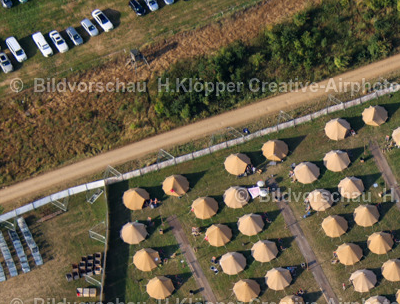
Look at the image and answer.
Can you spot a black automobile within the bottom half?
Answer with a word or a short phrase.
No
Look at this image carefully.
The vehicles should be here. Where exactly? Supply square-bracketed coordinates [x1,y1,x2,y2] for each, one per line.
[129,0,146,18]
[163,0,175,6]
[33,31,51,56]
[50,31,67,53]
[82,18,97,37]
[7,34,26,59]
[0,52,13,74]
[0,0,13,10]
[94,9,111,31]
[66,27,83,47]
[145,0,161,13]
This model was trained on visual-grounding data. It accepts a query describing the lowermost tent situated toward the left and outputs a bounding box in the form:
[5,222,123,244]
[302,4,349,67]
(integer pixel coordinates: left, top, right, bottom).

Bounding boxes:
[145,276,174,299]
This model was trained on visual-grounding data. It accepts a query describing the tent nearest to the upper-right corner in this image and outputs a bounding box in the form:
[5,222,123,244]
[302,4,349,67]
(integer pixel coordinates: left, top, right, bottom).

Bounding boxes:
[361,104,391,126]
